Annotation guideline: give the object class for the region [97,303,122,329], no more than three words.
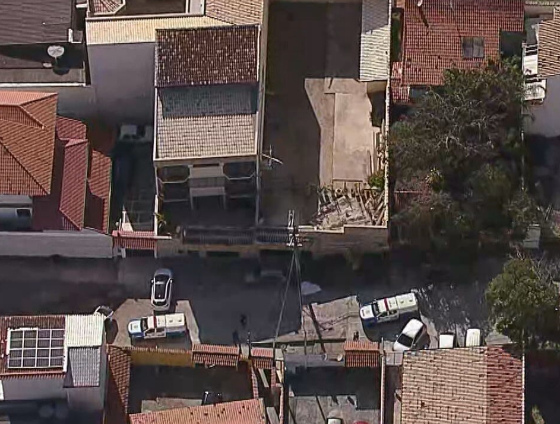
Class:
car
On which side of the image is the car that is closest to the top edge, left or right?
left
